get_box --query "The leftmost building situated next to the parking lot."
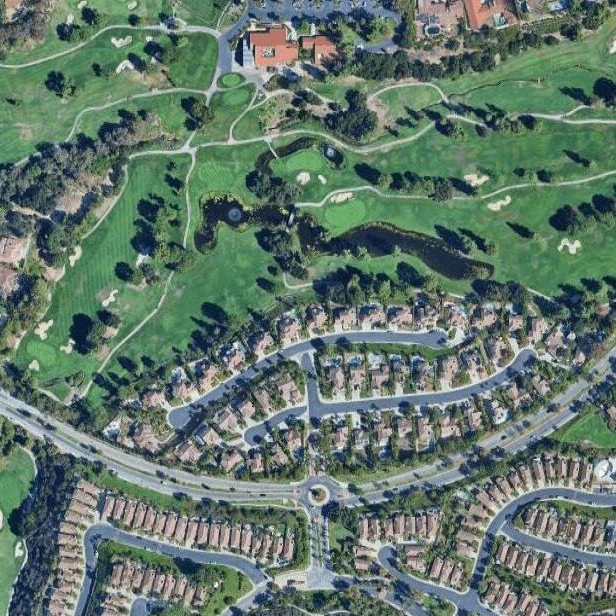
[243,27,298,67]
